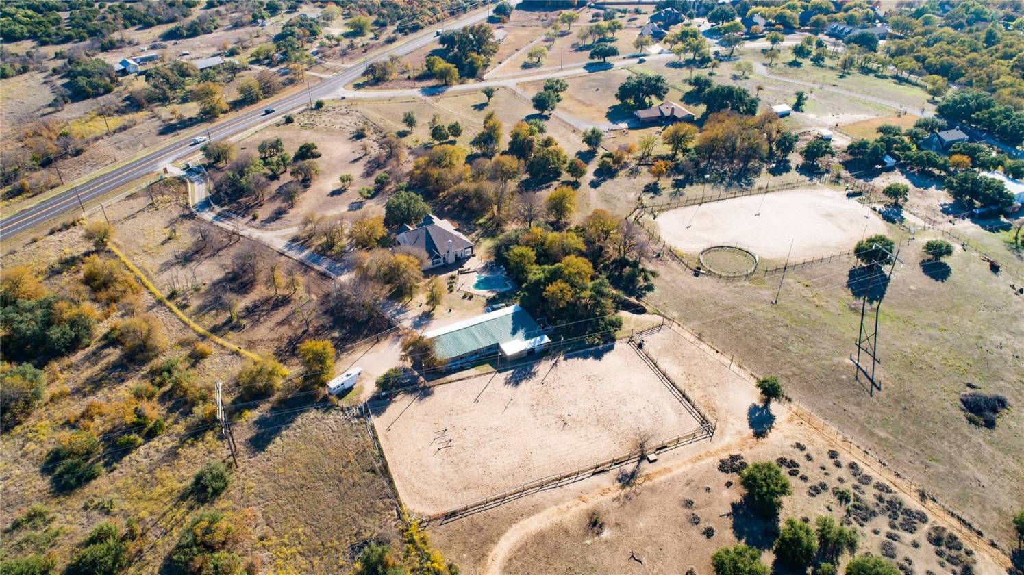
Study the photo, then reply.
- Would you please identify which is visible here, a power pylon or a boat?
power pylon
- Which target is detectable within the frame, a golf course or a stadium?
stadium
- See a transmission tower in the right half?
Yes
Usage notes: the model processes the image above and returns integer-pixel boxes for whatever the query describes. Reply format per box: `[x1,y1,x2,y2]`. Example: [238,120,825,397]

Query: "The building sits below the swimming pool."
[426,306,551,369]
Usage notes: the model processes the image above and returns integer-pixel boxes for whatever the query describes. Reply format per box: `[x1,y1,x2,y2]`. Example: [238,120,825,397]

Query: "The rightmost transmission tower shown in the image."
[865,241,903,307]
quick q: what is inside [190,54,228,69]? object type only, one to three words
shed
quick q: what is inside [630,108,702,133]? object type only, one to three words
house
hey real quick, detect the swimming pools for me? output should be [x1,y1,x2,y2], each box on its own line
[472,274,511,290]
